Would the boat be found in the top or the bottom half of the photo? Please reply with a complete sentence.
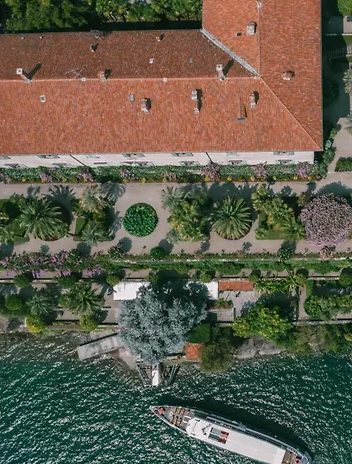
You can find the boat in the bottom half.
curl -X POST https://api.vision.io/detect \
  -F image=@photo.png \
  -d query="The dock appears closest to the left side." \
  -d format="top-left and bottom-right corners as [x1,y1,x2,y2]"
[77,335,119,359]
